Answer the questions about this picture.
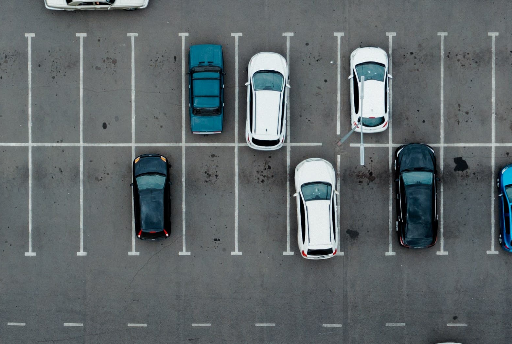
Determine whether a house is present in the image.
No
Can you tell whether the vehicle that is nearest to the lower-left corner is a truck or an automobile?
automobile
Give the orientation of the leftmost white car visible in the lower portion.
from top to bottom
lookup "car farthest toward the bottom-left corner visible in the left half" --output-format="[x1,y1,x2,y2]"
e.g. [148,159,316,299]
[127,153,175,241]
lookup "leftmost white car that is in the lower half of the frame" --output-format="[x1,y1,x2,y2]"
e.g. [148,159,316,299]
[291,158,342,260]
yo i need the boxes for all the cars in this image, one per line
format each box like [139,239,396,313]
[43,0,150,14]
[243,51,294,151]
[392,143,445,248]
[184,43,228,134]
[127,153,175,241]
[346,46,396,134]
[291,158,342,260]
[496,164,512,252]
